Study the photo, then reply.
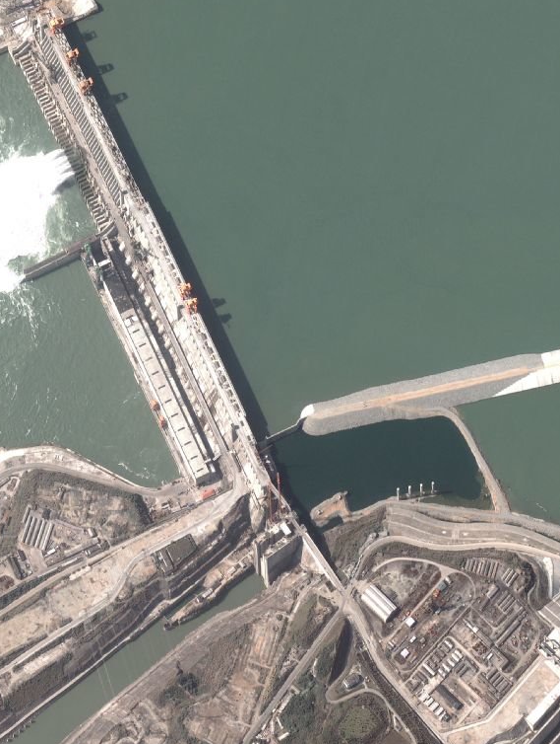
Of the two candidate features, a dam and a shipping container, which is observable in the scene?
dam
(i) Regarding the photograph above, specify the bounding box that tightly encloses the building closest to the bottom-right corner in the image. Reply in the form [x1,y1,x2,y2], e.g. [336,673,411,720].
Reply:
[527,684,560,724]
